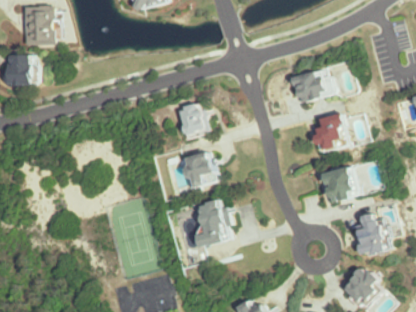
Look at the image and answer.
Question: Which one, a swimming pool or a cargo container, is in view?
swimming pool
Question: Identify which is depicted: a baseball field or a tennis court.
tennis court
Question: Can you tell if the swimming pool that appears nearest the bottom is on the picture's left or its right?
right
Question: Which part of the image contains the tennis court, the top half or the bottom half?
bottom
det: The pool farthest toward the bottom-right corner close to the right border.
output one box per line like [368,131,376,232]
[366,290,400,312]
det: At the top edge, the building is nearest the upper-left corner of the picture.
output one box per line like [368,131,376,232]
[23,2,66,46]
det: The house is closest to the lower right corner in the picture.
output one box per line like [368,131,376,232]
[344,265,384,311]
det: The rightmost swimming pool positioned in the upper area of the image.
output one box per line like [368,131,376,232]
[398,101,416,130]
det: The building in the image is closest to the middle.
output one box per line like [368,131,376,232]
[185,150,222,188]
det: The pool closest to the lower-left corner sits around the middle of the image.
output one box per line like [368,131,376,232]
[168,156,190,195]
